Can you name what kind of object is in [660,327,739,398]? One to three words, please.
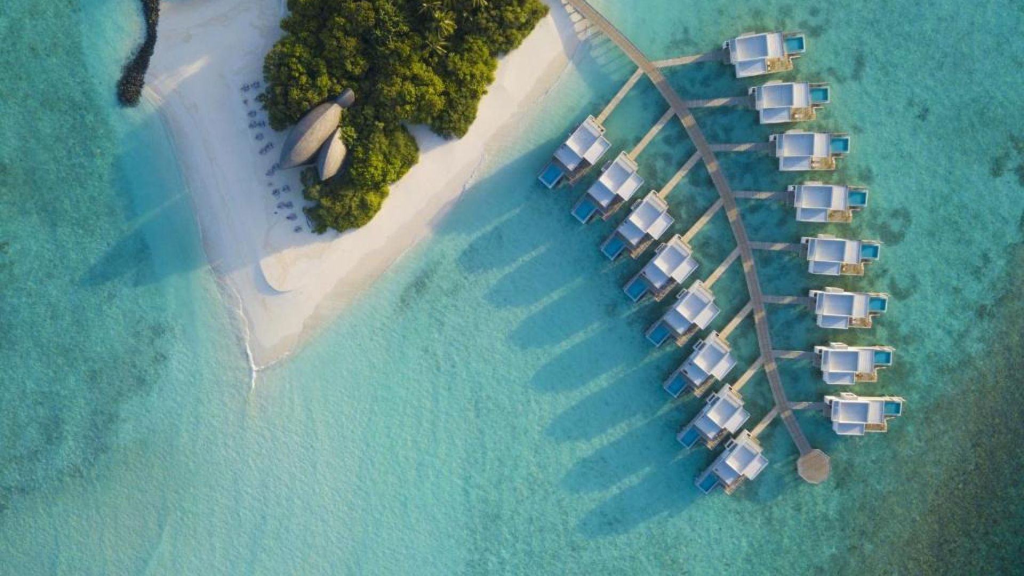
house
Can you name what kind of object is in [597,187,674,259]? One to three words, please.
house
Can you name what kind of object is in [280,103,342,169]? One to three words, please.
building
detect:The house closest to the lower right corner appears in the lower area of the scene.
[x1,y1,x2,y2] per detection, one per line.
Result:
[819,390,904,435]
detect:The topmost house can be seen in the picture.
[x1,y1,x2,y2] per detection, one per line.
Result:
[719,31,802,77]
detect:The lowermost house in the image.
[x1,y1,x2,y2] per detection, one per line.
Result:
[691,425,770,496]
